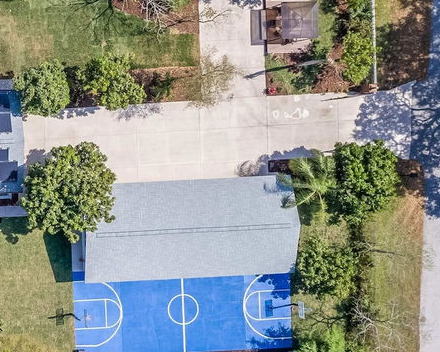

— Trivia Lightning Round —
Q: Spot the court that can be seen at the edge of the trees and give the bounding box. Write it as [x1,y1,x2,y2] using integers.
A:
[74,268,293,352]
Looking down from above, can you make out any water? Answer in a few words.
No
